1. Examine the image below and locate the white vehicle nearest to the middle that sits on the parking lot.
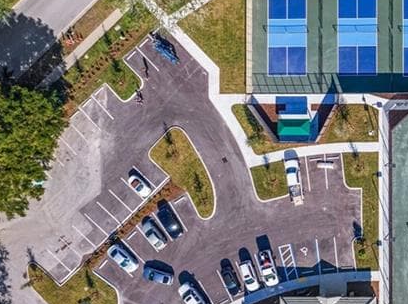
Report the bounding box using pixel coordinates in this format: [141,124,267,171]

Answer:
[127,173,153,199]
